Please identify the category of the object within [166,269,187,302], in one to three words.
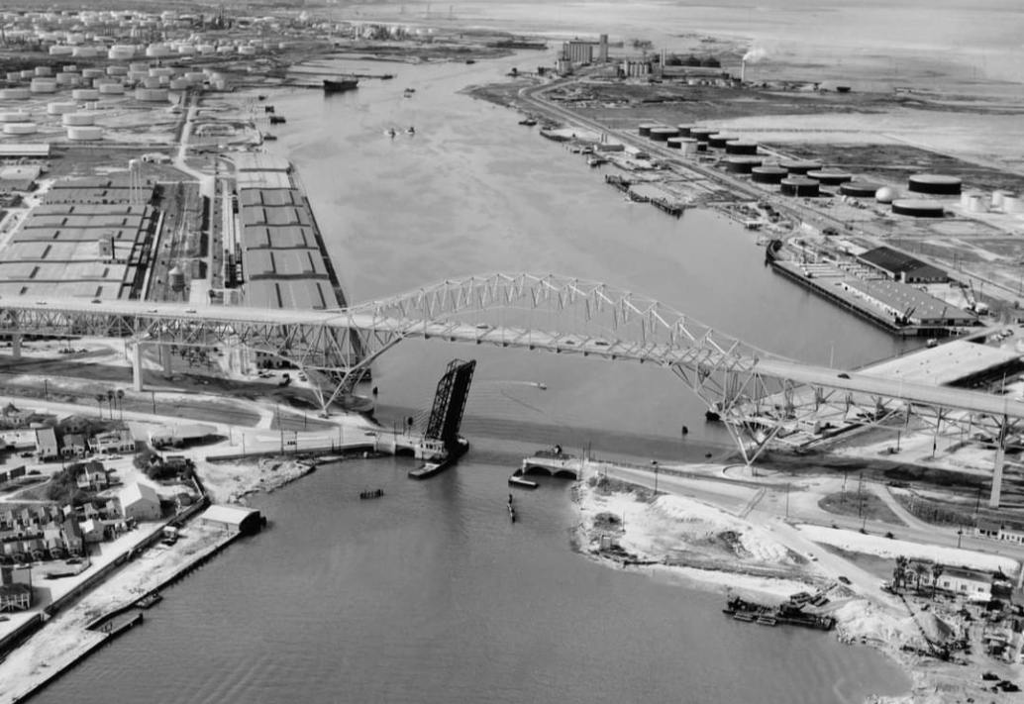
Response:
water tower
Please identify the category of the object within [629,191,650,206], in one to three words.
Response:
ship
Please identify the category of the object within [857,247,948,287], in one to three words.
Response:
building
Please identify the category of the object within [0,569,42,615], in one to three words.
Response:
house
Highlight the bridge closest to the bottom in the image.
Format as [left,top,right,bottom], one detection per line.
[0,274,1024,498]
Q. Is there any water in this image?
Yes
